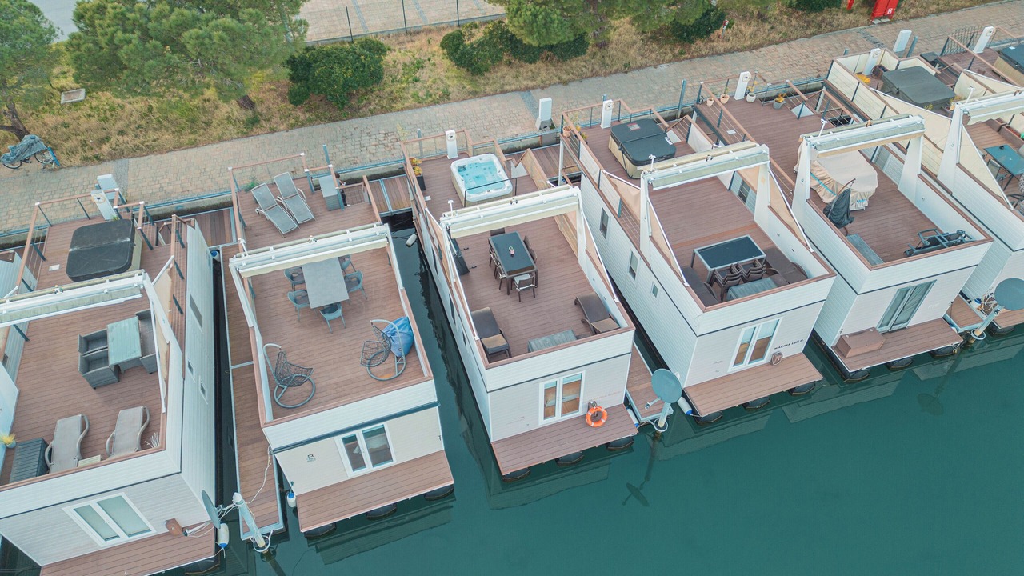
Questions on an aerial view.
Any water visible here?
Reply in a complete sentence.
Yes, there is water in the image.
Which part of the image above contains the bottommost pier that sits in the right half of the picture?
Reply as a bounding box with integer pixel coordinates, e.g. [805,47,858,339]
[626,344,674,426]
